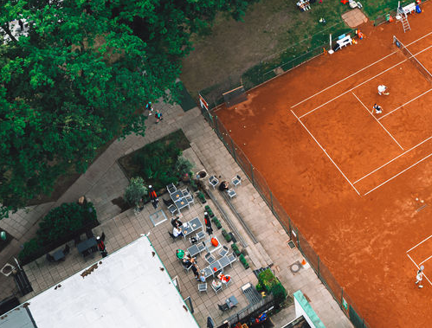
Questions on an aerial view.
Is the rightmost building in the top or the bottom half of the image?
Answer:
bottom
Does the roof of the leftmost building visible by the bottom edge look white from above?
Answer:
Yes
